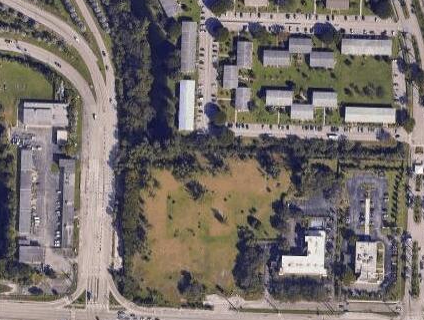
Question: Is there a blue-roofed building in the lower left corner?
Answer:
No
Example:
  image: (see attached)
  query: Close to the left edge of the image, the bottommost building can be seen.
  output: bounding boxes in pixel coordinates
[19,247,44,263]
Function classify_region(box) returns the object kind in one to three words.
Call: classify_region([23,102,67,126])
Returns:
building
